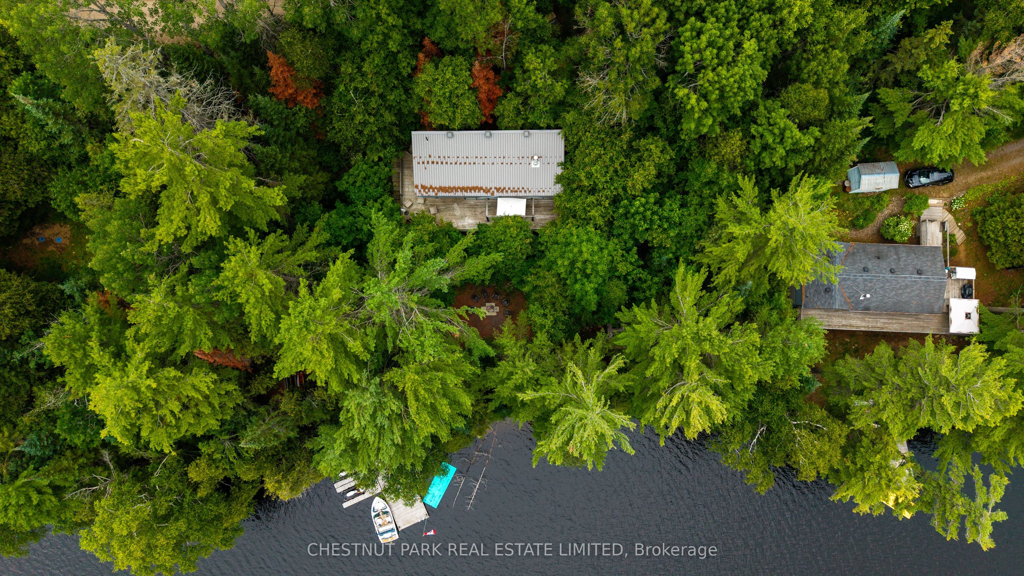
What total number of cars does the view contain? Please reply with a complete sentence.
The picture shows 1 car.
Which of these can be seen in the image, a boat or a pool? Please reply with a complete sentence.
The image shows a boat.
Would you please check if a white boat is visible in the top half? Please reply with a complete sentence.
No, in the top half there is no white boat.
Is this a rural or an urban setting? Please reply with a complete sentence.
It looks rural.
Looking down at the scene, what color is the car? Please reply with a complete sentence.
The car looks black in the image.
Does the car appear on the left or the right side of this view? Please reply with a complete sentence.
The car appears in the right half of the scene.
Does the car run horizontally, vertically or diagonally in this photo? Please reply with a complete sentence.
The car runs horizontally in the image.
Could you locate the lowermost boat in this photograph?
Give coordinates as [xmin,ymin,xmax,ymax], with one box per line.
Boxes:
[372,496,398,543]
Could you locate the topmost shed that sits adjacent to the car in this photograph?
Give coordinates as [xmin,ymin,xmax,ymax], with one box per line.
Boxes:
[844,161,899,194]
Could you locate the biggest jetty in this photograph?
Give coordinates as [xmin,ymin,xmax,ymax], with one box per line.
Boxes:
[380,478,429,531]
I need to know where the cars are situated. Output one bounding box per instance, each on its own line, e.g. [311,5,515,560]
[903,168,953,190]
